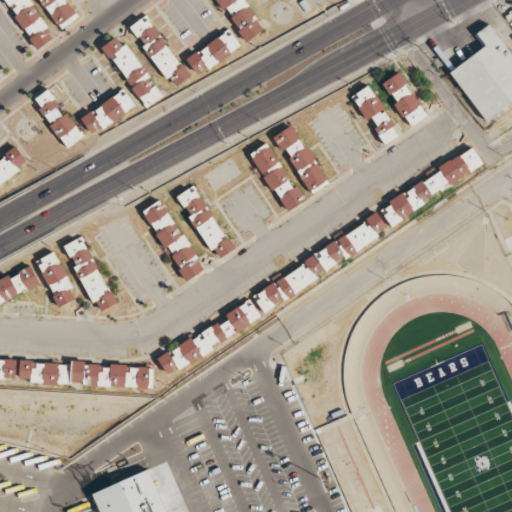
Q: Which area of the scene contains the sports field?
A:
bottom right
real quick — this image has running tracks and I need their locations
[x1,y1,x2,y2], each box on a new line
[362,294,512,512]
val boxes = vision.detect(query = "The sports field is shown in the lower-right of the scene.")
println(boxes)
[380,312,512,512]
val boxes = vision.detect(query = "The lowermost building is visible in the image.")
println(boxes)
[92,468,168,512]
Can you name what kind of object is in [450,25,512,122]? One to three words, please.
building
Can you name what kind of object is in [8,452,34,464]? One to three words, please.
vehicle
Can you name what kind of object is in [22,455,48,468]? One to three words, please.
vehicle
